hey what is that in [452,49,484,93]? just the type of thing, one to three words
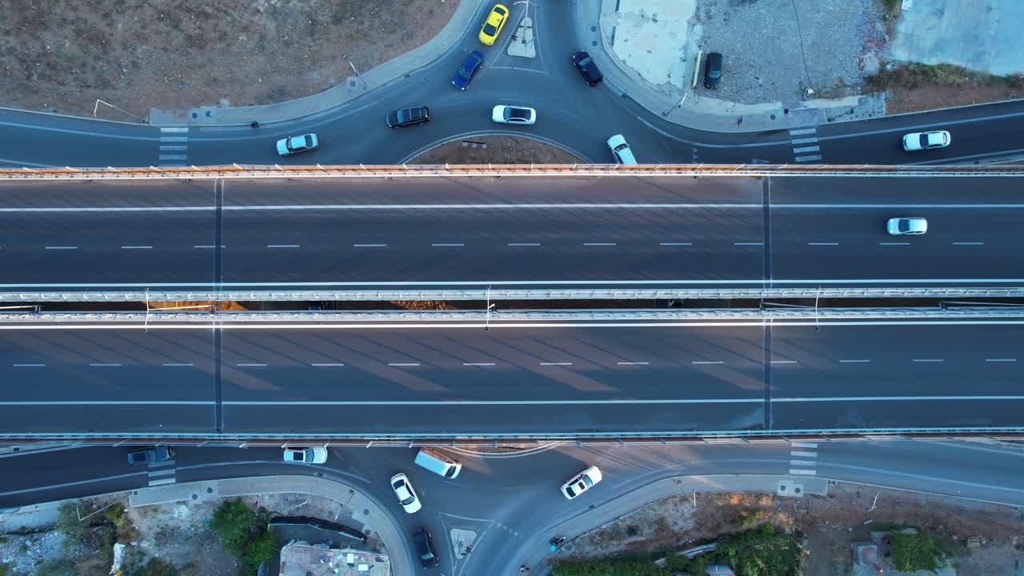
car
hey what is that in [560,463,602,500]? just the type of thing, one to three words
car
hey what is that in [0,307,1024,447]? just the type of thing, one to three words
overpass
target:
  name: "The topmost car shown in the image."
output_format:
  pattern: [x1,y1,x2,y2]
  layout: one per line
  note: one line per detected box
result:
[481,3,509,48]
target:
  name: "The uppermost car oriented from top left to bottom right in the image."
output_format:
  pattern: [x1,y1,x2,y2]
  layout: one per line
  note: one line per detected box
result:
[570,50,605,91]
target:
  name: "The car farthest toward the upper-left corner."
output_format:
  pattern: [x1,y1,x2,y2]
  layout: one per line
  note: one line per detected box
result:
[277,133,321,157]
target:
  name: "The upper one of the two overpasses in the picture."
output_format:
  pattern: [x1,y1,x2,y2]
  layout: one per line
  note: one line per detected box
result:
[0,163,1024,302]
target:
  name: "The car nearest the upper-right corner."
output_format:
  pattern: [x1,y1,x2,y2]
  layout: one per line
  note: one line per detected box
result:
[900,131,948,152]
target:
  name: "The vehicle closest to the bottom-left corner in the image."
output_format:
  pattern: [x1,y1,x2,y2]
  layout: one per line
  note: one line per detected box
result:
[127,443,177,465]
